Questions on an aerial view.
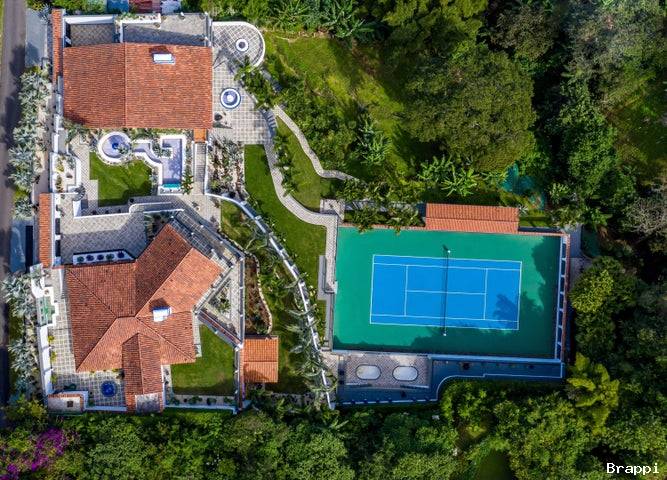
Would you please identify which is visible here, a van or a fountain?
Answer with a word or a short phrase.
fountain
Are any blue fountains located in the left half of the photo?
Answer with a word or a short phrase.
Yes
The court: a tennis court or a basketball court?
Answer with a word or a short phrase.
tennis court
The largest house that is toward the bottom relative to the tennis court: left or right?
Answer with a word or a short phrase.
on the left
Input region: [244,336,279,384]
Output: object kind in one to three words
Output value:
building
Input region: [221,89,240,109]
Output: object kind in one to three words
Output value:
fountain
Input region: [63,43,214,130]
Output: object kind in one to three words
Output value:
house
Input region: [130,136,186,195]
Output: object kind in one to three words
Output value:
swimming pool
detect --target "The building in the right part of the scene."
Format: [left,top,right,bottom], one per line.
[425,203,519,234]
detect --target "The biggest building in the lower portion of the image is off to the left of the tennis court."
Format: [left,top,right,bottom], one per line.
[65,224,223,412]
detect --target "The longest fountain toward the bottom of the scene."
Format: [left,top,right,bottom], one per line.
[37,286,61,329]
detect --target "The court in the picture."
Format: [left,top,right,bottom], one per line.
[334,227,562,358]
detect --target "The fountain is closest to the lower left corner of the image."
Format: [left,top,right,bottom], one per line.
[100,380,119,397]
